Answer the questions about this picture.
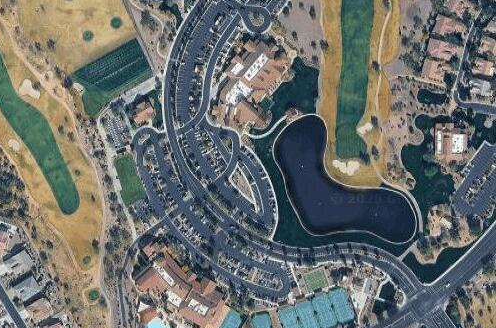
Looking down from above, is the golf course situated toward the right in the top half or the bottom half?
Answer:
top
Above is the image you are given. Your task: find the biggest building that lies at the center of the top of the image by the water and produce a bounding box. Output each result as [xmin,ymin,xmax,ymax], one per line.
[218,41,290,135]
